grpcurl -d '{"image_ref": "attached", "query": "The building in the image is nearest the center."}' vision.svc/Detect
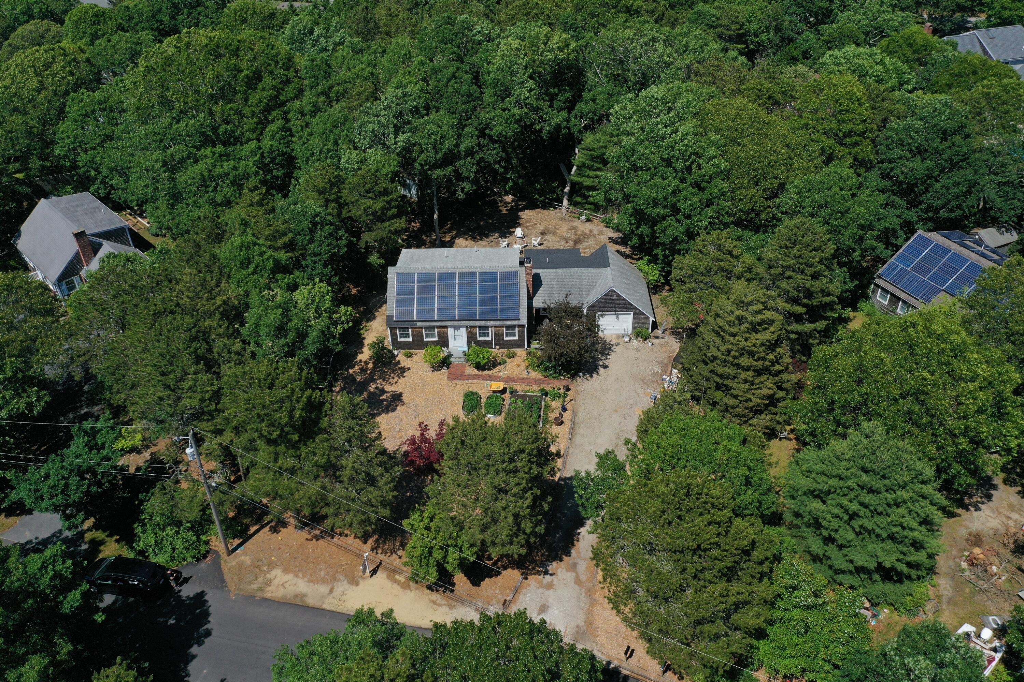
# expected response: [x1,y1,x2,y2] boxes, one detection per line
[386,244,656,363]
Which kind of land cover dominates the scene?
trees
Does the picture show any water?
No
